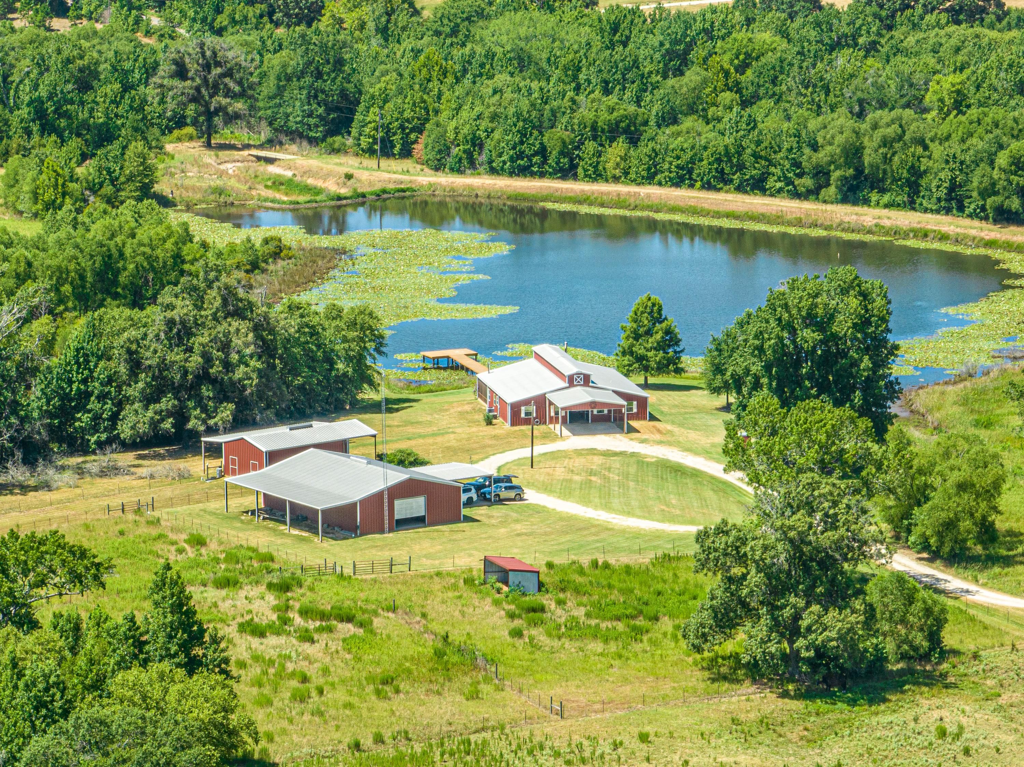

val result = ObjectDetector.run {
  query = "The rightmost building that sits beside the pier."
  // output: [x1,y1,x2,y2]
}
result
[475,337,651,436]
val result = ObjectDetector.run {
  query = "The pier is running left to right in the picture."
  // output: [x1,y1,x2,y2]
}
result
[420,349,486,381]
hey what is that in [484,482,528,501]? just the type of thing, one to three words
car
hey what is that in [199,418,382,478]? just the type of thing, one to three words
shed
